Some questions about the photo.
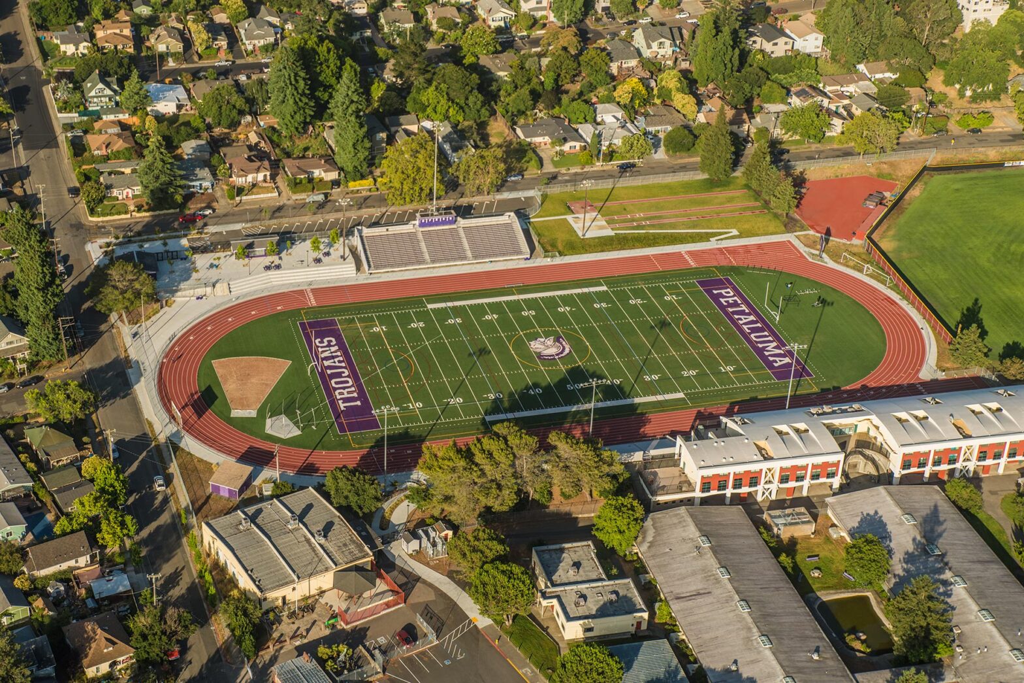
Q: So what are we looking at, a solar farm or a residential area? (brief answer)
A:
residential area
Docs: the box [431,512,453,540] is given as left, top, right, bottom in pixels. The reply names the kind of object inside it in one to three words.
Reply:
shed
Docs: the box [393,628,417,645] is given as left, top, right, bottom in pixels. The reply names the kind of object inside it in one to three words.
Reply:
car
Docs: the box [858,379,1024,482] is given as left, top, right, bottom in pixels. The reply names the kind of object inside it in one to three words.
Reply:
building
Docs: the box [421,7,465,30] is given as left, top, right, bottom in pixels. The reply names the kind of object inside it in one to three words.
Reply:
house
